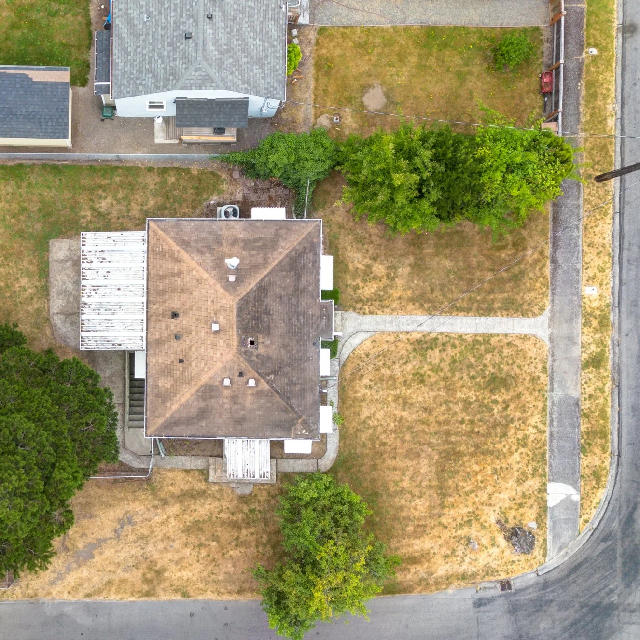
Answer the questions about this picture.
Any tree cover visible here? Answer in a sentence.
Yes, there is tree cover in the image.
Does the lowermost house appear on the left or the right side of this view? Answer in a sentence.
The lowermost house sits on the left side.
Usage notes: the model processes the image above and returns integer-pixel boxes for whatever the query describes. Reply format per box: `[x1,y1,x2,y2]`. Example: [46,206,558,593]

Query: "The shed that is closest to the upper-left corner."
[0,65,72,149]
